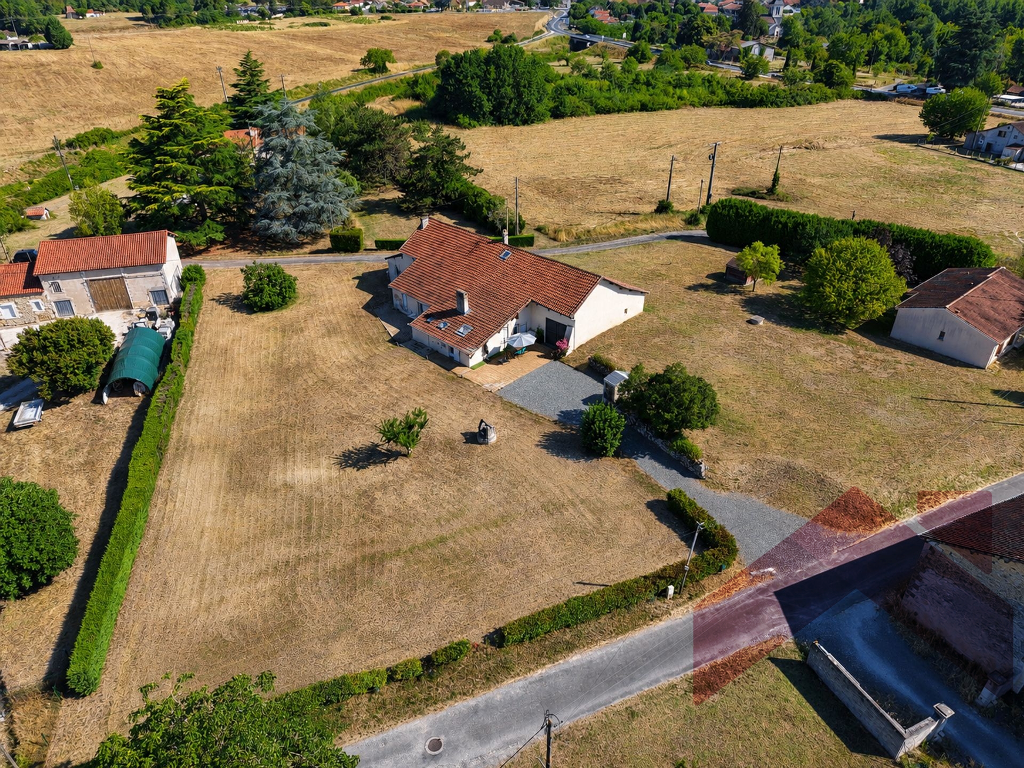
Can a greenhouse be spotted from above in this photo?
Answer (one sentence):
Yes, a greenhouse is visible in the scene.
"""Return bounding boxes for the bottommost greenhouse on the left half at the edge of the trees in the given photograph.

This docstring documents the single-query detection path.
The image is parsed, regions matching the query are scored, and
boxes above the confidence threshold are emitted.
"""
[99,331,169,404]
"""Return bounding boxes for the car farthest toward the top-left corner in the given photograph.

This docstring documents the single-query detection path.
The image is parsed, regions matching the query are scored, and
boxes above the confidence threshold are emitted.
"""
[0,245,39,266]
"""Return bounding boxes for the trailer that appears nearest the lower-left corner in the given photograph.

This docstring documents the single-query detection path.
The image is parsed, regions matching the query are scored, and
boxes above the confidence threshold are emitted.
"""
[7,402,42,429]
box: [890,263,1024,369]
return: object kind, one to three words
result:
house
